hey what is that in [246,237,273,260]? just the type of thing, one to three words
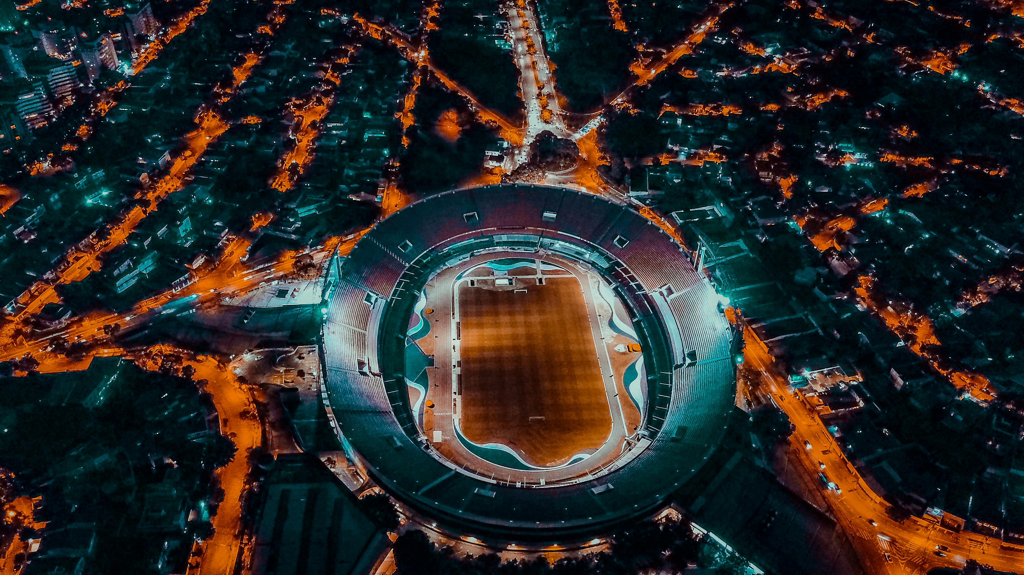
house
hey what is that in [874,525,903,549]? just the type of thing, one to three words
bus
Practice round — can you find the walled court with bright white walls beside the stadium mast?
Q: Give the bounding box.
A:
[672,201,725,223]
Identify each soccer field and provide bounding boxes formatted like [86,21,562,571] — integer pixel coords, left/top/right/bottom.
[451,260,612,467]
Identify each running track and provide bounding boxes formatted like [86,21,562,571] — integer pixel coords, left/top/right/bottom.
[434,254,624,474]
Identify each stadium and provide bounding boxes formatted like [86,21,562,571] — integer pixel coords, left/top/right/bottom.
[322,182,739,556]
